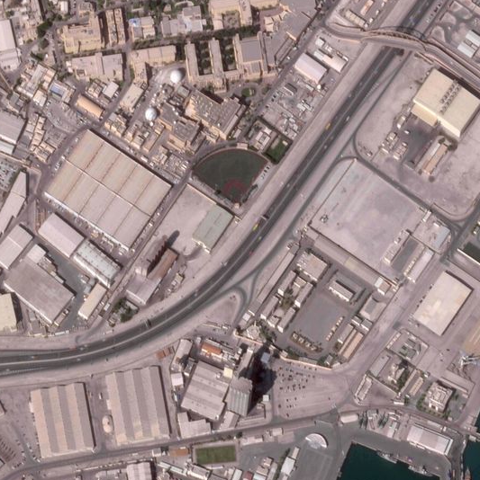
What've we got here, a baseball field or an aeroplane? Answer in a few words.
baseball field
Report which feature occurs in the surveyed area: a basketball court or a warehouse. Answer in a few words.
warehouse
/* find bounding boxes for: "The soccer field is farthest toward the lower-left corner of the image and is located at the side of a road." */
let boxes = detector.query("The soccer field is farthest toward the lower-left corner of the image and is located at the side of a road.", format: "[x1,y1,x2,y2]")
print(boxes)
[193,443,238,466]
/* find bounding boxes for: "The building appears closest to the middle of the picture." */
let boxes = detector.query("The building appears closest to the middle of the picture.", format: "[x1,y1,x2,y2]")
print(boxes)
[193,206,234,251]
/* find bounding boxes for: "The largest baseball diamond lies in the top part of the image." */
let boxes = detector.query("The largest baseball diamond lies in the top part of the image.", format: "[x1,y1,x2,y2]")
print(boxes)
[192,148,269,204]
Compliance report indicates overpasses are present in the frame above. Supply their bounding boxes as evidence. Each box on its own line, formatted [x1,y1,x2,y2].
[315,21,480,90]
